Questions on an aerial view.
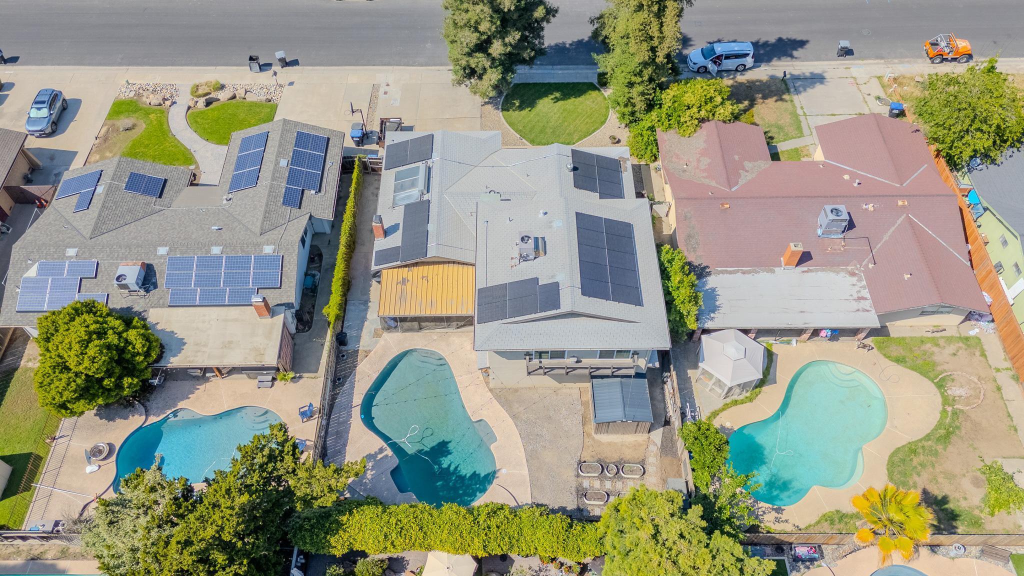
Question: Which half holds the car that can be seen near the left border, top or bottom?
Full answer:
It is in the top half that the car that can be seen near the left border appears.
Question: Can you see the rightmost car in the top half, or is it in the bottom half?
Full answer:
You can find the rightmost car in the top half.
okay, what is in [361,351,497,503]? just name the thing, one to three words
swimming pool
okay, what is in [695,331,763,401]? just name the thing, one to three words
gazebo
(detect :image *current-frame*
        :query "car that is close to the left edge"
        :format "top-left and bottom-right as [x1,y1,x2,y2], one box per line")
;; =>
[20,87,67,138]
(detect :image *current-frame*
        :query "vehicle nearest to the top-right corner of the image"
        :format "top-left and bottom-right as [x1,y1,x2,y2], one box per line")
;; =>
[922,35,972,64]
